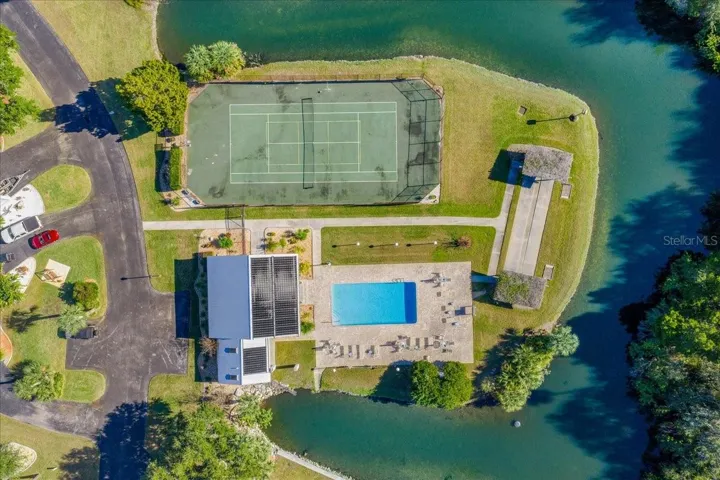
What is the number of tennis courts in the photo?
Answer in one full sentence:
In total, 1 tennis court can be seen.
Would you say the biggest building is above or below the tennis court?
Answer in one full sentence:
In the image, the biggest building appears below the tennis court.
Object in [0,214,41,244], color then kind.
white truck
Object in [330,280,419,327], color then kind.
blue swimming pool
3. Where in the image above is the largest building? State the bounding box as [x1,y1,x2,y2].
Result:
[207,254,300,339]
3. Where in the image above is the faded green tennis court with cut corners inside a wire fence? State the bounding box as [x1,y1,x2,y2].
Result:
[186,79,442,207]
